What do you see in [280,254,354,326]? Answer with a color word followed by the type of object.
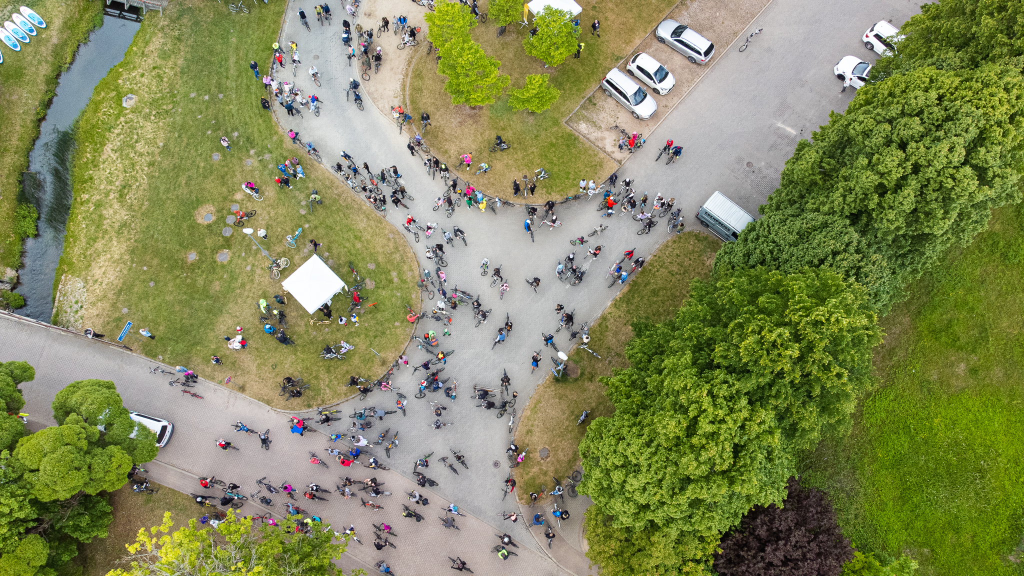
white tent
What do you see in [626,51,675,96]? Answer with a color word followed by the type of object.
white car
